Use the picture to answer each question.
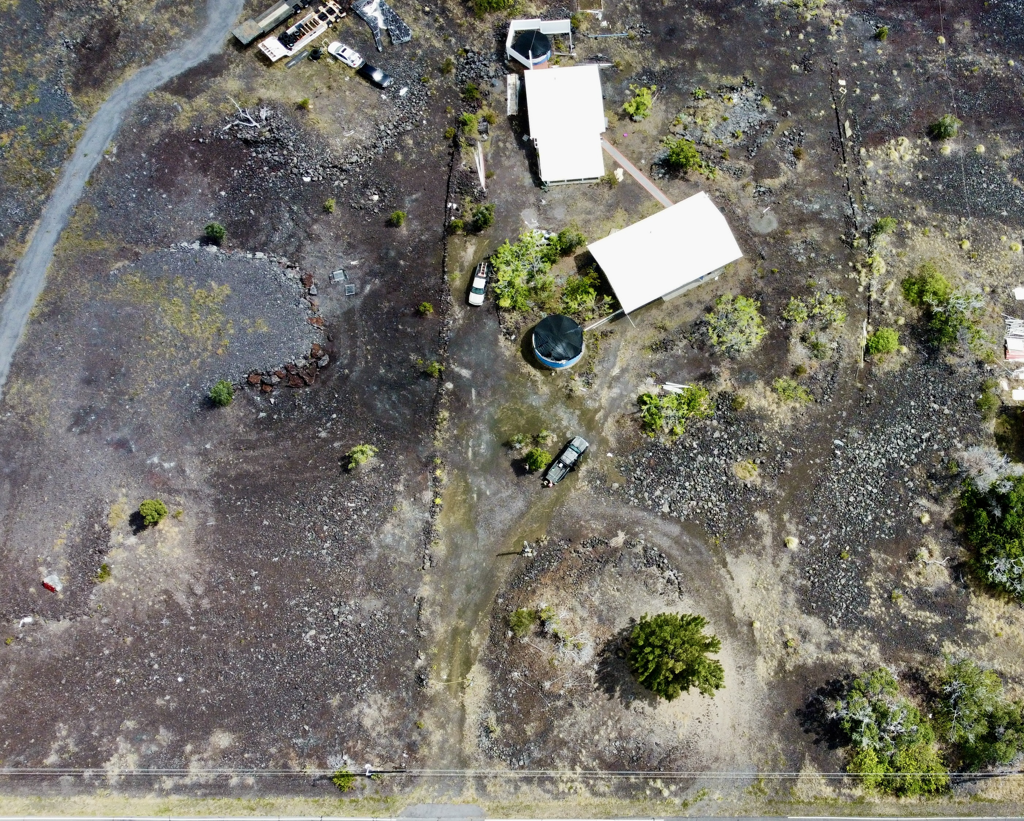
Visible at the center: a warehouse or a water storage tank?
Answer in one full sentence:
The feature located at the center is a water storage tank.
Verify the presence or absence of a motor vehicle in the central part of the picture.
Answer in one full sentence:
Yes, there is a motor vehicle in the central part of the picture.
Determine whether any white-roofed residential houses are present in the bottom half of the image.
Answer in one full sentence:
No, I see no white-roofed residential house in the bottom half of the image.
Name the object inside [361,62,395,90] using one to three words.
car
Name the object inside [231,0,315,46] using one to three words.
trailer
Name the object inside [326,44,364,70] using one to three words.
car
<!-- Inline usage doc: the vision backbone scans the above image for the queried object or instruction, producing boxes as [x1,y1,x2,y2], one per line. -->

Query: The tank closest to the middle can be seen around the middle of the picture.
[533,314,586,369]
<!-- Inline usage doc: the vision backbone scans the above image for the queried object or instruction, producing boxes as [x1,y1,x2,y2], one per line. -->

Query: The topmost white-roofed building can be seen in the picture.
[524,65,608,194]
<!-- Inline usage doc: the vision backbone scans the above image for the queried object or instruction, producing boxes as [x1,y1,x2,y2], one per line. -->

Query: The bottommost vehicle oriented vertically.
[467,260,493,307]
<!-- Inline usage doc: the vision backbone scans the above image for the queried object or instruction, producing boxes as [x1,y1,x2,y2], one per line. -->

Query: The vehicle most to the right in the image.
[548,434,590,488]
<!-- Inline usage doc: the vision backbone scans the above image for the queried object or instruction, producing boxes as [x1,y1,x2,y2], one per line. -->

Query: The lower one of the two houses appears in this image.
[587,191,743,319]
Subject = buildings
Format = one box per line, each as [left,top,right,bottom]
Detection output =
[587,191,743,319]
[524,65,608,194]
